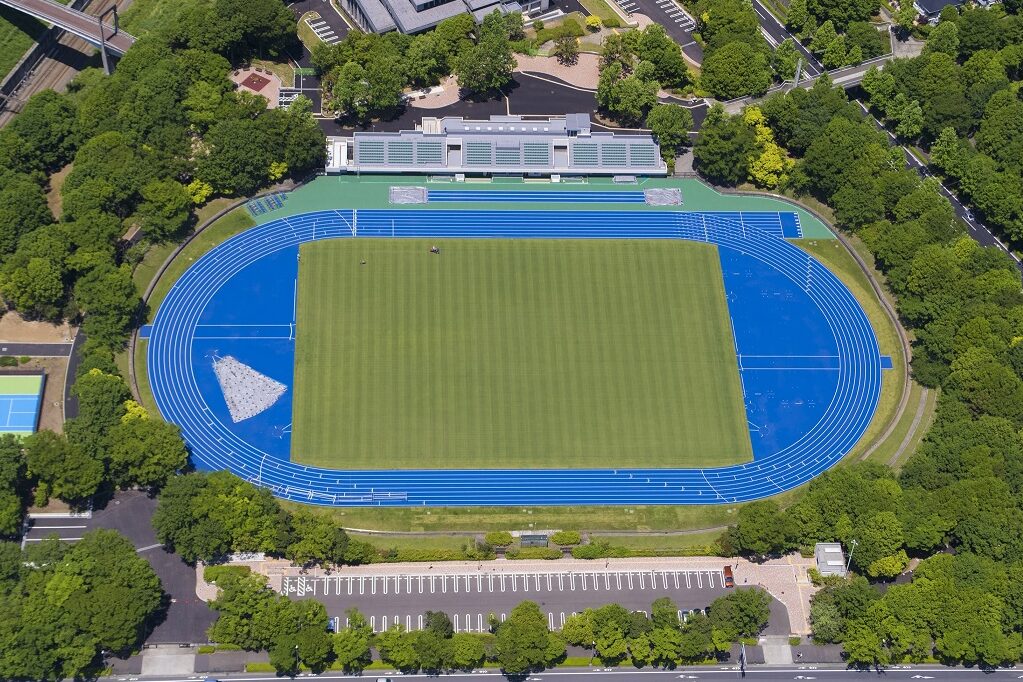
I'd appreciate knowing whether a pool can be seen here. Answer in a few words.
No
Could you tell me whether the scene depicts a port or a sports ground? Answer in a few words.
sports ground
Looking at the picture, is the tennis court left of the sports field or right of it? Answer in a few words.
on its left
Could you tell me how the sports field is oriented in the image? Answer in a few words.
from side to side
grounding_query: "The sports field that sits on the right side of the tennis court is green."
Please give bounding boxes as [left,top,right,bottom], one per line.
[291,239,753,469]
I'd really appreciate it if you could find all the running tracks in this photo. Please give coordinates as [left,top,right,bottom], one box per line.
[138,172,890,505]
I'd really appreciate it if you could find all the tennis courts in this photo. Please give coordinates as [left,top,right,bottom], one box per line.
[0,374,42,438]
